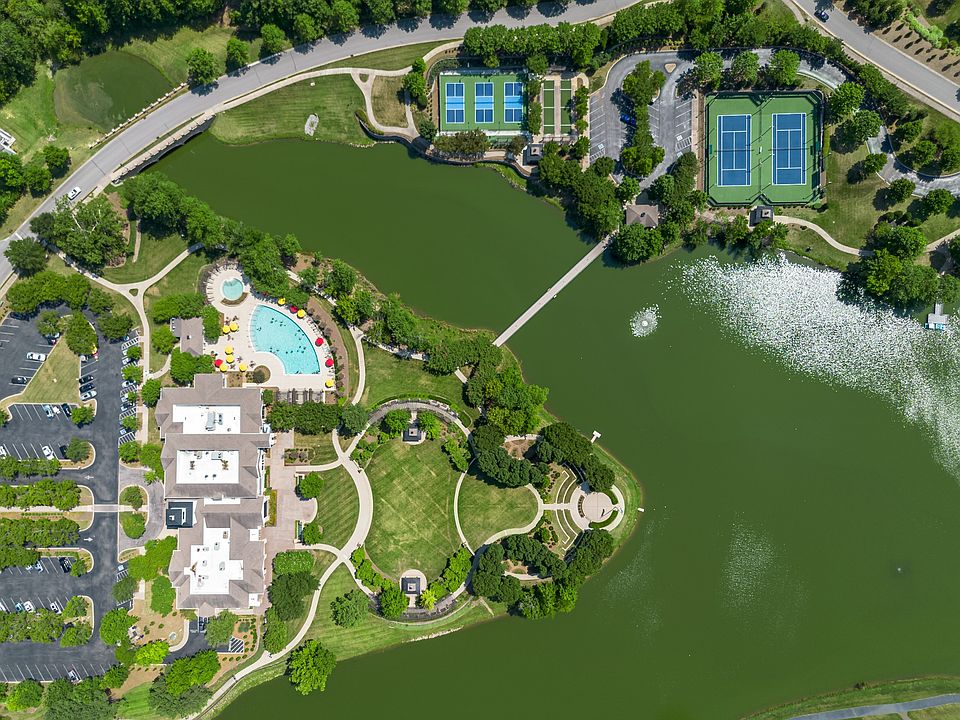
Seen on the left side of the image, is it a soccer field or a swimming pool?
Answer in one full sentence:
You can see a swimming pool on the left side of the image.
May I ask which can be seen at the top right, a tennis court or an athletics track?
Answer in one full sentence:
The feature located at the top right is a tennis court.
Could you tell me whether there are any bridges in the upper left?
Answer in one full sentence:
Yes, a bridge appears in the upper left.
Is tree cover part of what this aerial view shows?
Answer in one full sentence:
Yes, some tree cover is visible.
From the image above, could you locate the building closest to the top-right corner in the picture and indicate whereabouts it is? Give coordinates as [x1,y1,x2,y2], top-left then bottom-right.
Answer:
[745,205,774,230]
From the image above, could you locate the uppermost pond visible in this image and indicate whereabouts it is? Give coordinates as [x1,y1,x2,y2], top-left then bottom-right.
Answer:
[54,52,195,136]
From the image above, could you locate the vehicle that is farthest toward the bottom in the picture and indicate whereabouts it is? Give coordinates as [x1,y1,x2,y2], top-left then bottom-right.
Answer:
[67,668,80,683]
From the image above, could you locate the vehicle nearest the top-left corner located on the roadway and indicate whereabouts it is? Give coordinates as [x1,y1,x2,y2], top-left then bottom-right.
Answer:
[67,187,82,199]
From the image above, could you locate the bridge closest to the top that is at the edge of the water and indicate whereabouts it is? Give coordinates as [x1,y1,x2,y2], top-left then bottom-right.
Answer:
[112,113,217,185]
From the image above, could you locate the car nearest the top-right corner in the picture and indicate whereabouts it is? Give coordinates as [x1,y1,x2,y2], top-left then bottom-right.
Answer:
[815,8,828,22]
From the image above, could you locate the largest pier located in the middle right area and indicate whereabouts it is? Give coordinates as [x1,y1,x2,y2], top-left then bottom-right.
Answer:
[926,300,950,324]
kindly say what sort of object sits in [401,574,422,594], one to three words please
building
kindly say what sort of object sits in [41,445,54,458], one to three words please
vehicle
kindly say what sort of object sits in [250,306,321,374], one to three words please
swimming pool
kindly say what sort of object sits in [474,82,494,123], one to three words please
sports court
